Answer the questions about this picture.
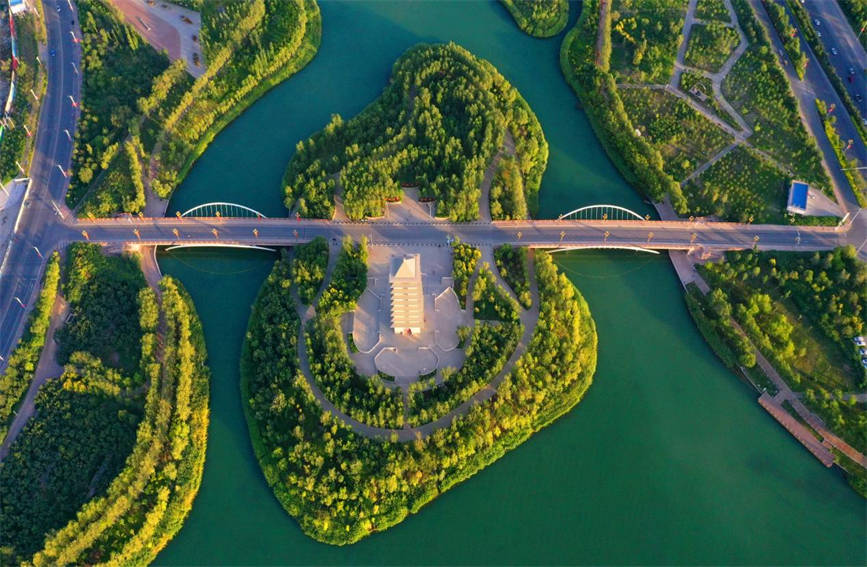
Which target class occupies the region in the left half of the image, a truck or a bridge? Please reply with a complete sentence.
You can see a bridge in the left half of the image.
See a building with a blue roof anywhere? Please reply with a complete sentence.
Yes, a building with a blue roof is visible in the scene.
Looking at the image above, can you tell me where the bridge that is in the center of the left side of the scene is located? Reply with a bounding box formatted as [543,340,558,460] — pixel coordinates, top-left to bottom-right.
[73,203,334,251]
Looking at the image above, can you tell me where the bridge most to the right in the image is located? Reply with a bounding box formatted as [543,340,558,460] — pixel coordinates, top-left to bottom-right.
[494,205,763,254]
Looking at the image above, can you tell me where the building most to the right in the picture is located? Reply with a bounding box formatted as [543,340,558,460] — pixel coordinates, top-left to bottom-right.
[785,179,809,215]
